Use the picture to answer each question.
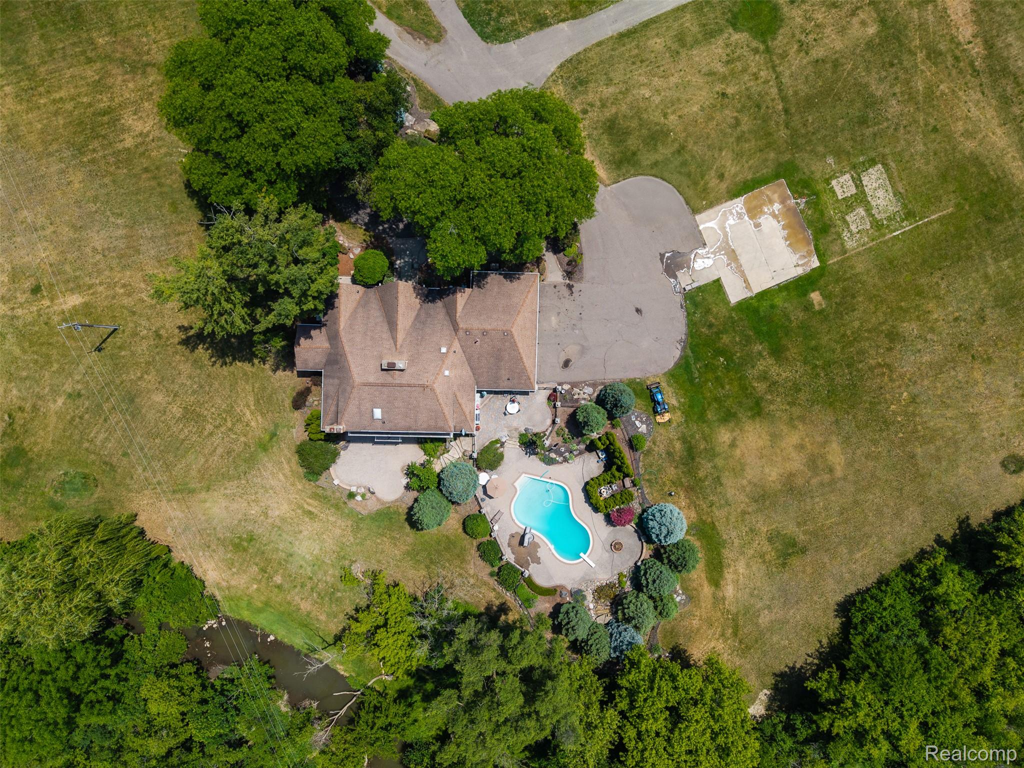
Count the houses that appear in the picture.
1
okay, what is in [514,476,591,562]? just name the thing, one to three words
swimming pool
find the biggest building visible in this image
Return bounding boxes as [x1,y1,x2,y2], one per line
[294,271,540,442]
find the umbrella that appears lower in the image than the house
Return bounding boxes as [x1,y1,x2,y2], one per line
[487,477,507,498]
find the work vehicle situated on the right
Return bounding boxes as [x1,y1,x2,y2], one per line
[650,381,672,425]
